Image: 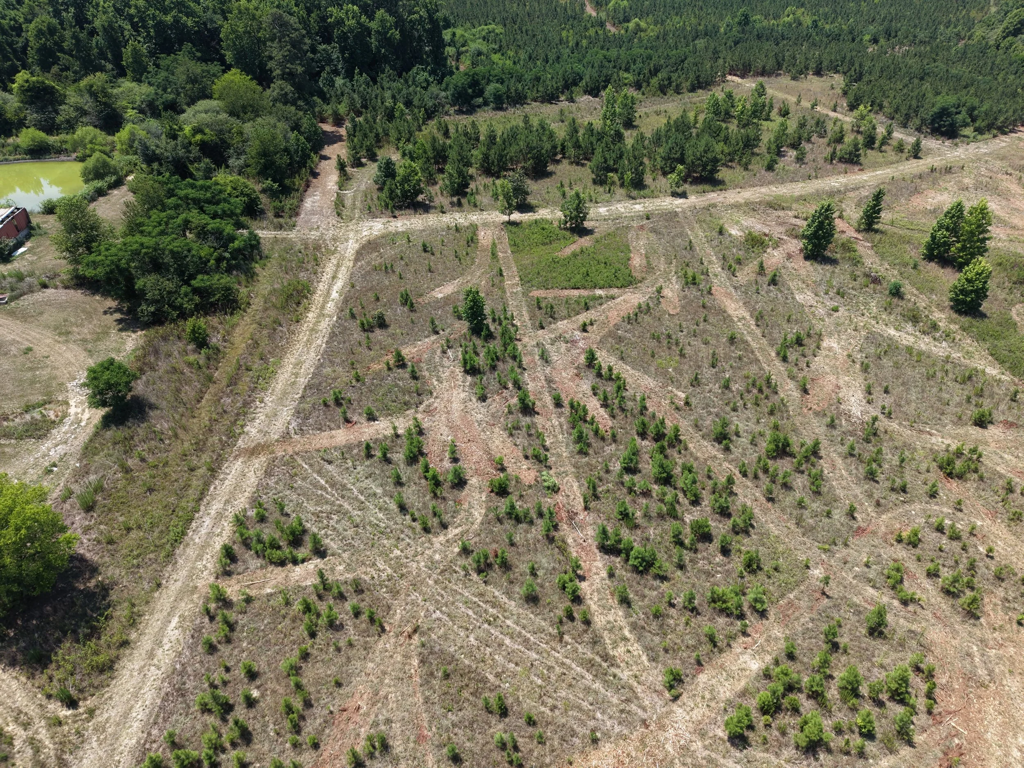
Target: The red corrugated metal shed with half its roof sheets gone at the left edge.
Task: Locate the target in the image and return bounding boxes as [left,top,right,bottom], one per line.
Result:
[0,205,31,248]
